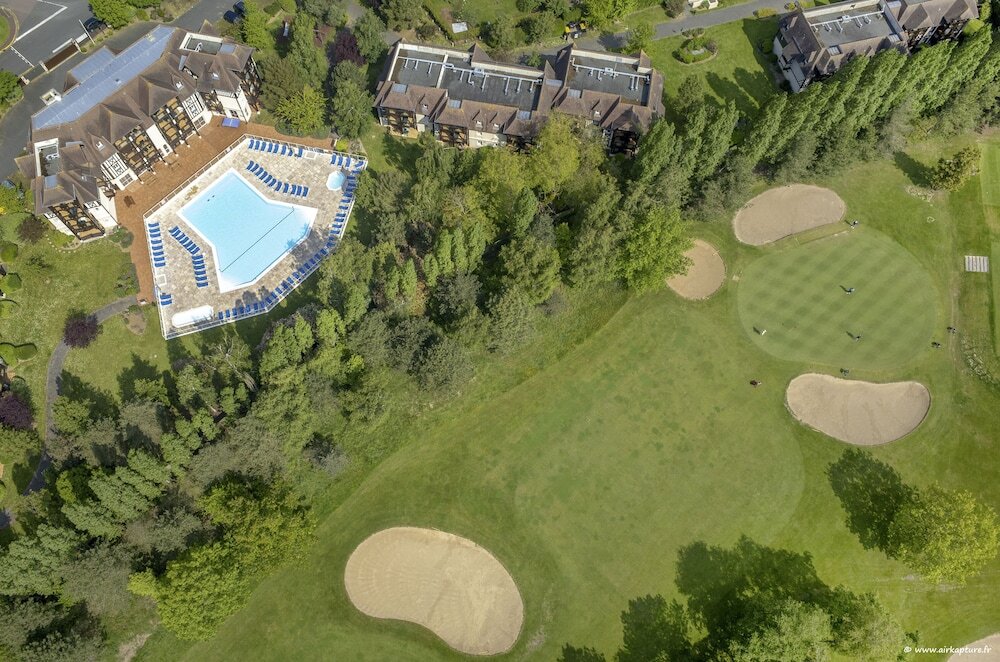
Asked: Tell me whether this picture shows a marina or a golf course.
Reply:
golf course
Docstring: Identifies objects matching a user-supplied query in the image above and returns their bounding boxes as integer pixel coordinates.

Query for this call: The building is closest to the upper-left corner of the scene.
[14,18,268,240]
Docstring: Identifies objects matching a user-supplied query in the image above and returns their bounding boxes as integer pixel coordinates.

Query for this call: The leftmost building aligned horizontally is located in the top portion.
[374,39,665,157]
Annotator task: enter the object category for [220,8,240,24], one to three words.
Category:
car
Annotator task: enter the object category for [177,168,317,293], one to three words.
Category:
swimming pool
